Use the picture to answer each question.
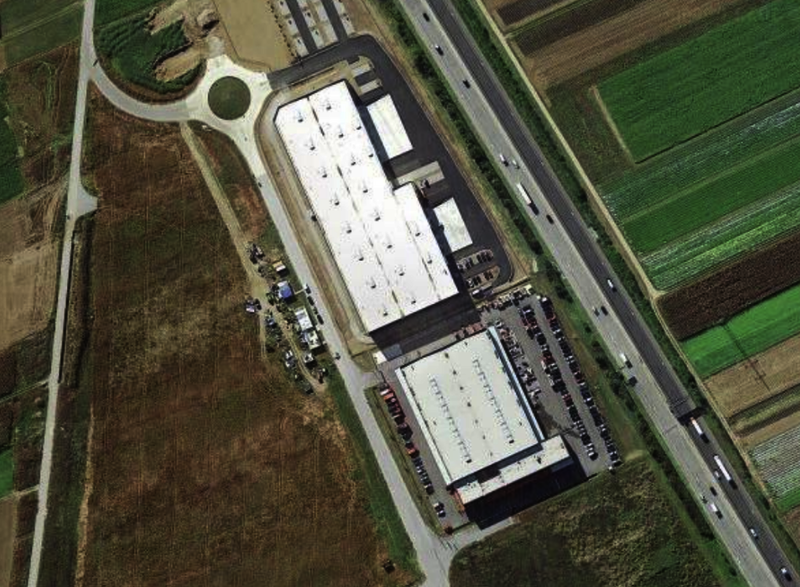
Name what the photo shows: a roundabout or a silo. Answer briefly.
roundabout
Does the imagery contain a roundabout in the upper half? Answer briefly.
Yes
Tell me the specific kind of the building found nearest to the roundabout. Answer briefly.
warehouse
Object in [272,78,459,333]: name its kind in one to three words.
warehouse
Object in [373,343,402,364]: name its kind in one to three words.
shed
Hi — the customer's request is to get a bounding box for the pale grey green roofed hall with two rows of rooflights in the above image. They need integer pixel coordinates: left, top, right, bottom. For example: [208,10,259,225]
[396,326,544,485]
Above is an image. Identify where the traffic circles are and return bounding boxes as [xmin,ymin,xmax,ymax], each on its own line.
[186,54,273,174]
